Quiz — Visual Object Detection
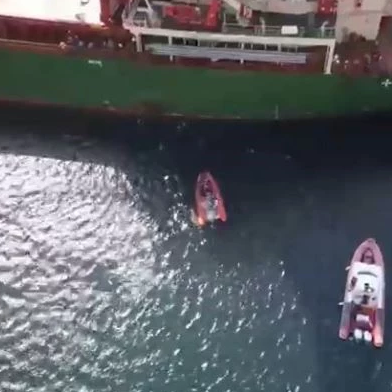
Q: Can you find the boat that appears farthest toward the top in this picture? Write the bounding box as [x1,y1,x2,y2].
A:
[160,1,204,22]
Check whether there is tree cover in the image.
No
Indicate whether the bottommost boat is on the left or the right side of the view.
right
